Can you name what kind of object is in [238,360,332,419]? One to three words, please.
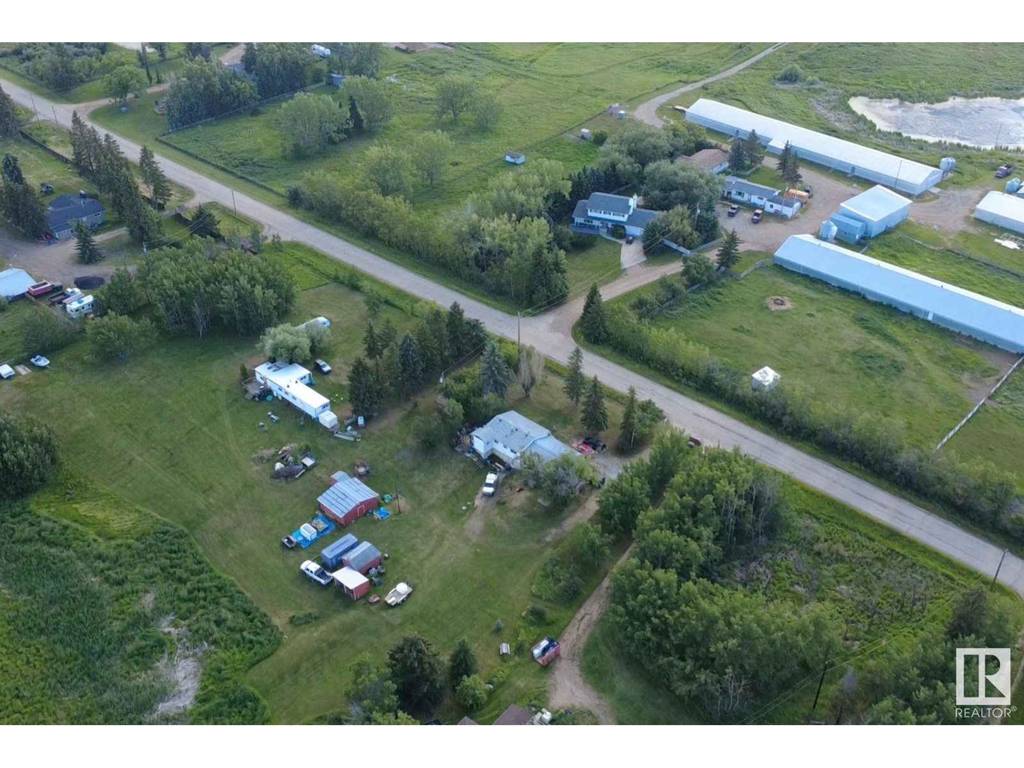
house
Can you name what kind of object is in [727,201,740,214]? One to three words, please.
vehicle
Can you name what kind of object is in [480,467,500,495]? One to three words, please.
vehicle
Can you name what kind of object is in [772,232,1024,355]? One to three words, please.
barn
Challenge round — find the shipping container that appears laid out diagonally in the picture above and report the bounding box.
[322,533,354,568]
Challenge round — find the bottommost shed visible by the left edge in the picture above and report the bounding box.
[0,260,38,303]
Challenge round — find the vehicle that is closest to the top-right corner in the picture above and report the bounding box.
[996,161,1017,176]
